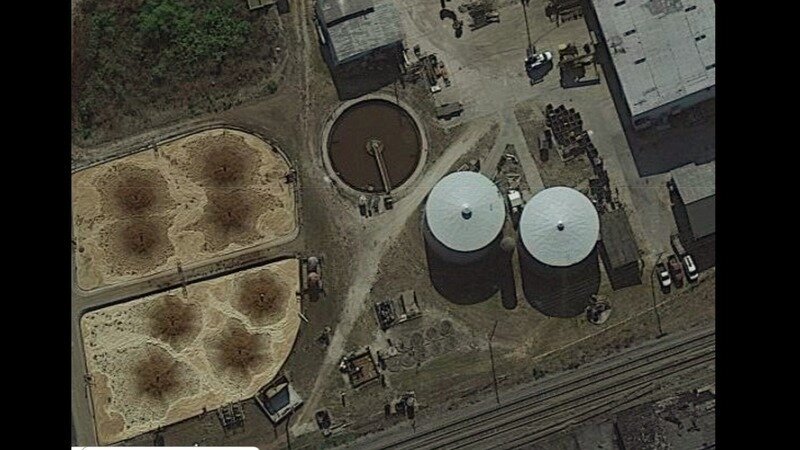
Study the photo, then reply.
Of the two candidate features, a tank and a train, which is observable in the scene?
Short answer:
tank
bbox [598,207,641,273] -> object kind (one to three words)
shed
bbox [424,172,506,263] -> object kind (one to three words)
storage tank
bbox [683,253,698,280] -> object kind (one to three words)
car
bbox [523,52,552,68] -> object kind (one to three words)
vehicle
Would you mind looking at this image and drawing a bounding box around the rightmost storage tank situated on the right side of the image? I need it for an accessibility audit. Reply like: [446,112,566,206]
[517,187,601,278]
